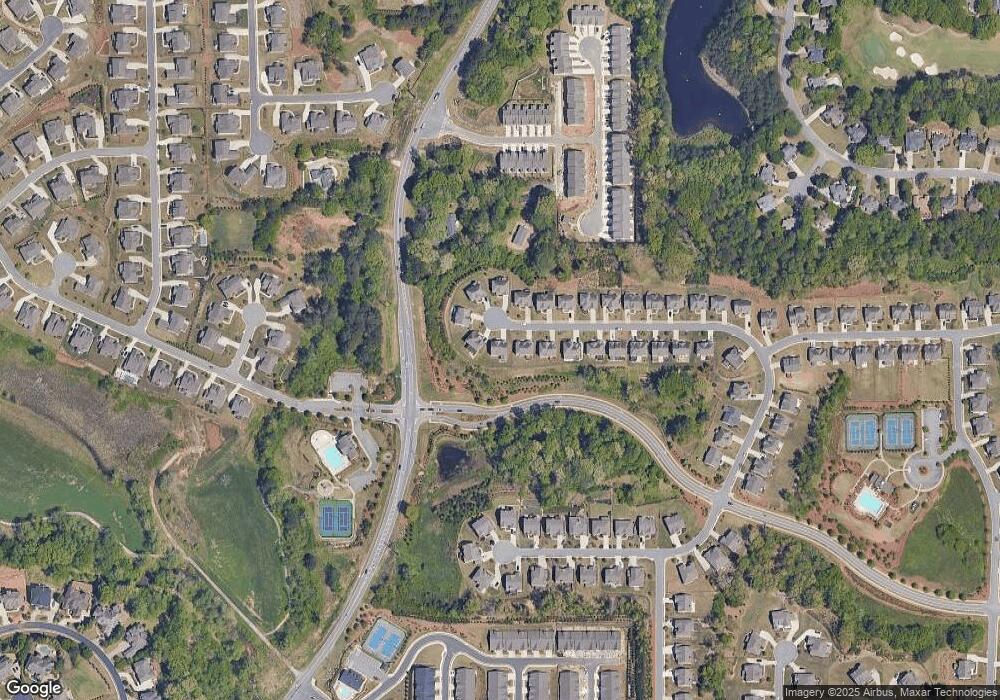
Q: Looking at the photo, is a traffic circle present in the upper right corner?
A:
No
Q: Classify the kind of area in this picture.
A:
residential area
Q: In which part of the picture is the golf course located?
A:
top right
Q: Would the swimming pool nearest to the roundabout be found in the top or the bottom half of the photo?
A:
bottom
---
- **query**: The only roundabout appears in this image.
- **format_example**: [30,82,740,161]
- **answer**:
[904,442,966,490]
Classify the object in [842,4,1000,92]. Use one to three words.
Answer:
golf course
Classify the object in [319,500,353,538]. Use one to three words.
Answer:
tennis court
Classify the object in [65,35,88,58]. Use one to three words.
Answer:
house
